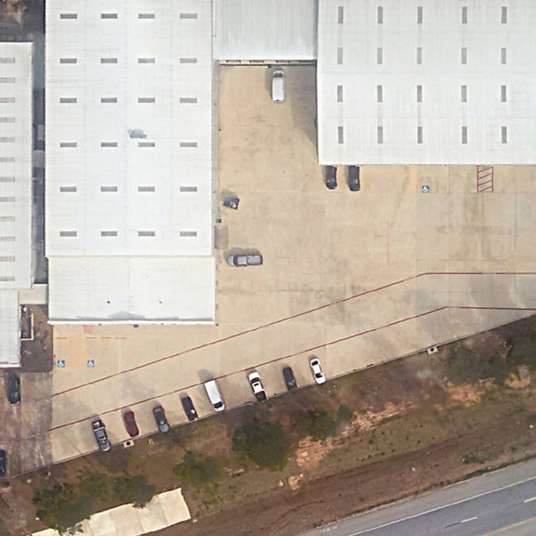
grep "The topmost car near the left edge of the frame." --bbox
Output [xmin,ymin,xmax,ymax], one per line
[9,376,21,404]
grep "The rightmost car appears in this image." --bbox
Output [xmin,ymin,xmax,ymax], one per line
[348,165,360,191]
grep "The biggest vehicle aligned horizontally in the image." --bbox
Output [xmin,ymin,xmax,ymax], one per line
[228,254,264,267]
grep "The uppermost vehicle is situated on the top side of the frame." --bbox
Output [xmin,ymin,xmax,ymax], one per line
[271,71,286,102]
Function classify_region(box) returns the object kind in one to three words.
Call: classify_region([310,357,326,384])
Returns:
car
